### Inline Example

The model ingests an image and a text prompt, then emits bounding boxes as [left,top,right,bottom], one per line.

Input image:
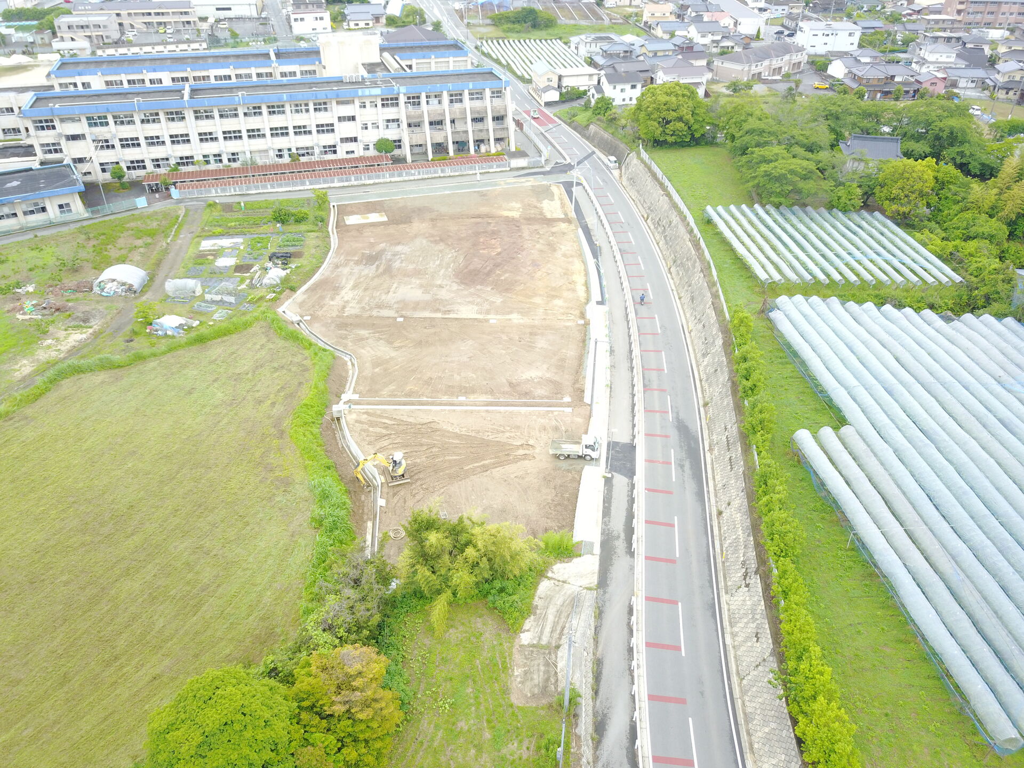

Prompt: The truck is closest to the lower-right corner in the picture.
[550,435,601,463]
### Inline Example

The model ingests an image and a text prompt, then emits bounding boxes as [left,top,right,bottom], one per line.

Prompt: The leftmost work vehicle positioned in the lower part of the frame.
[354,449,407,489]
